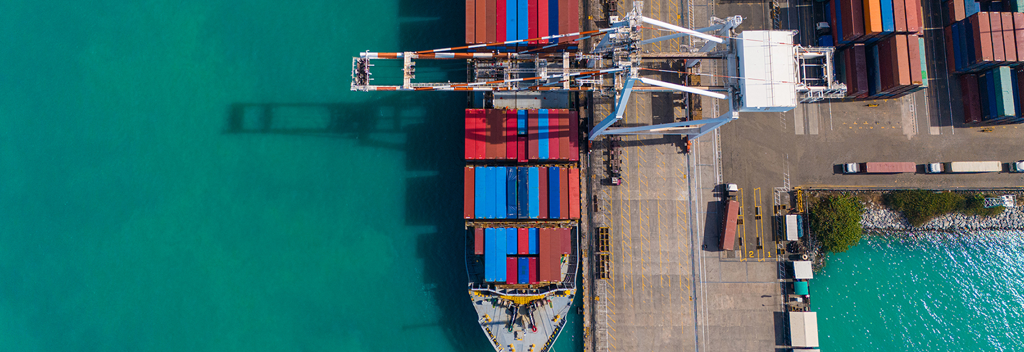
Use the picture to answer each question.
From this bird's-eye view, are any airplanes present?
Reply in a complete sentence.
No, I can't see a single airplane in this photo.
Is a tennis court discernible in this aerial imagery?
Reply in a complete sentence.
No, I can't see a single tennis court in this photo.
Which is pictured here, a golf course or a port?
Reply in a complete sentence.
The area seen from above is a port.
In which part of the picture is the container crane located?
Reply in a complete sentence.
The container crane appears toward the top of the photo.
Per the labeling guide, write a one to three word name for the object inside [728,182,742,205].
vehicle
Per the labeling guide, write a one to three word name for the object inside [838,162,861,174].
vehicle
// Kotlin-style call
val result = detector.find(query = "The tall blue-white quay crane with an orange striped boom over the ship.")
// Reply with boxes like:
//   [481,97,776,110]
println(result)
[349,0,858,164]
